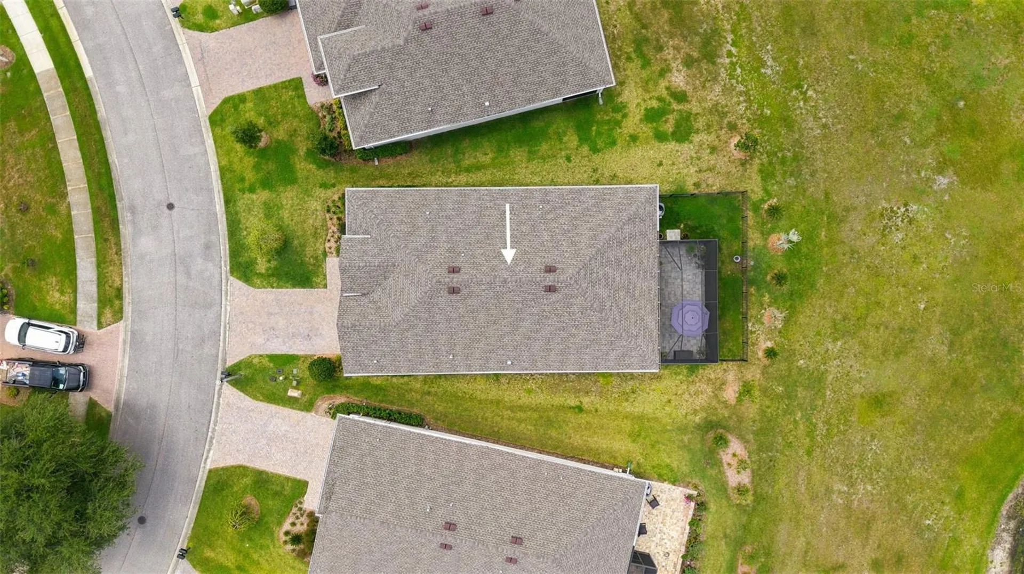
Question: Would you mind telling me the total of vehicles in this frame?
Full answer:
In total, 2 vehicles can be seen.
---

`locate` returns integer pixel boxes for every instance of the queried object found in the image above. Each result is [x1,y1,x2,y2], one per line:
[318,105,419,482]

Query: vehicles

[5,316,86,356]
[4,357,90,395]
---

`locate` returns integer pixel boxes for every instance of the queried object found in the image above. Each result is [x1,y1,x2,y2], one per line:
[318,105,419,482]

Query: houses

[307,414,649,574]
[295,0,616,150]
[336,182,663,378]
